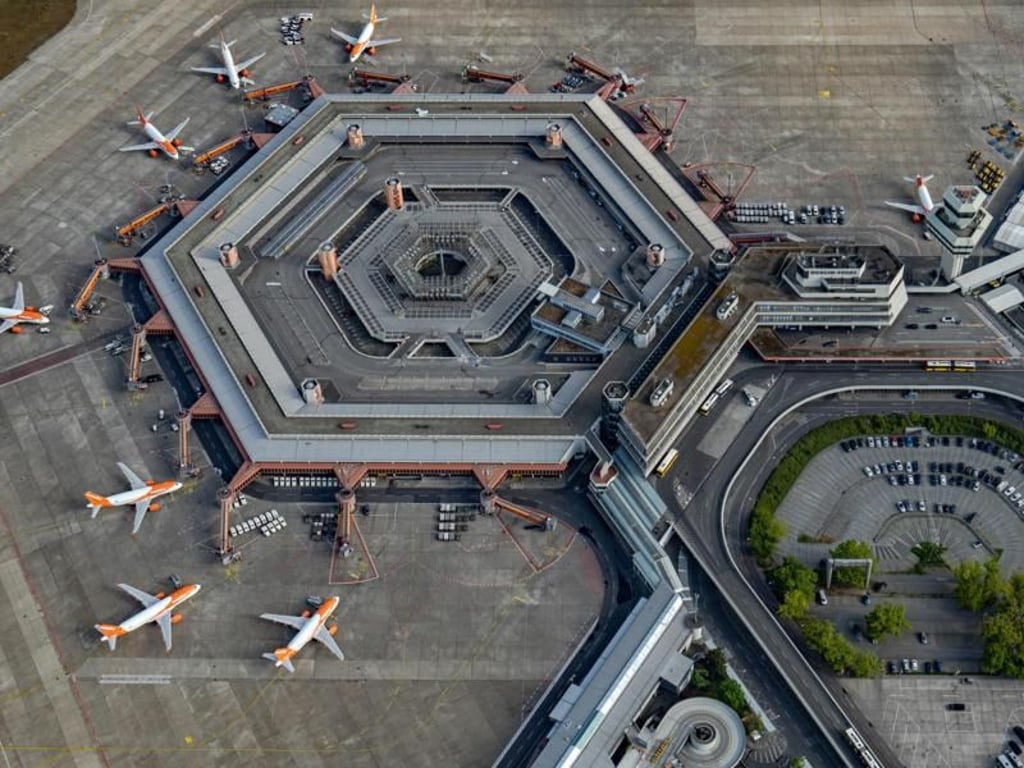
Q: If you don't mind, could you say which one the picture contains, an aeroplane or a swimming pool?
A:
aeroplane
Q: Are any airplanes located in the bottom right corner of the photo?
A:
No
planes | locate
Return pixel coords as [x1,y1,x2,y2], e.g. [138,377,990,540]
[101,584,200,651]
[192,33,262,88]
[885,170,937,227]
[260,599,342,671]
[121,105,188,158]
[332,4,400,61]
[0,282,48,333]
[82,459,182,530]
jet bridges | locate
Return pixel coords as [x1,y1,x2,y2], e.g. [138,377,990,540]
[480,487,557,532]
[129,306,150,389]
[71,240,114,319]
[698,168,736,218]
[352,60,412,91]
[246,74,314,108]
[114,195,180,242]
[567,54,623,95]
[640,103,673,150]
[338,486,356,553]
[217,486,236,564]
[464,69,524,88]
[176,390,195,471]
[192,128,256,170]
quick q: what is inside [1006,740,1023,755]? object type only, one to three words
car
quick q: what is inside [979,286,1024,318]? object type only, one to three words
shed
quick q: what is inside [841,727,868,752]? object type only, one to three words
bus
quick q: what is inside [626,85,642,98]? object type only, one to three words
vehicle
